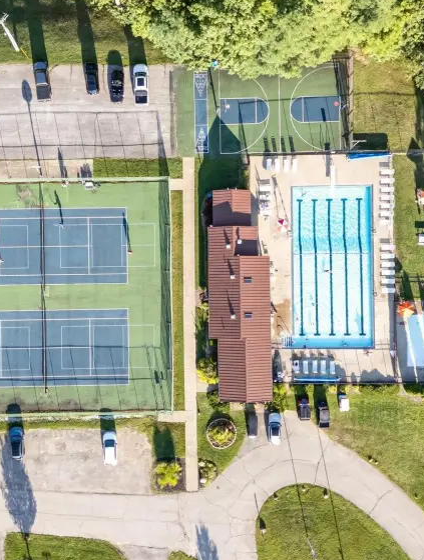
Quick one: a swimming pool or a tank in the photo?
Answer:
swimming pool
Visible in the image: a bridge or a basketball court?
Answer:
basketball court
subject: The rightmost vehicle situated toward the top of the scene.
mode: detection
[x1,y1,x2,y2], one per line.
[132,64,149,108]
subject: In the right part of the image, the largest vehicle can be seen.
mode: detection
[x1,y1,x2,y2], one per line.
[267,411,282,445]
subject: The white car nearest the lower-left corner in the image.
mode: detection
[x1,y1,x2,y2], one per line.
[101,430,117,465]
